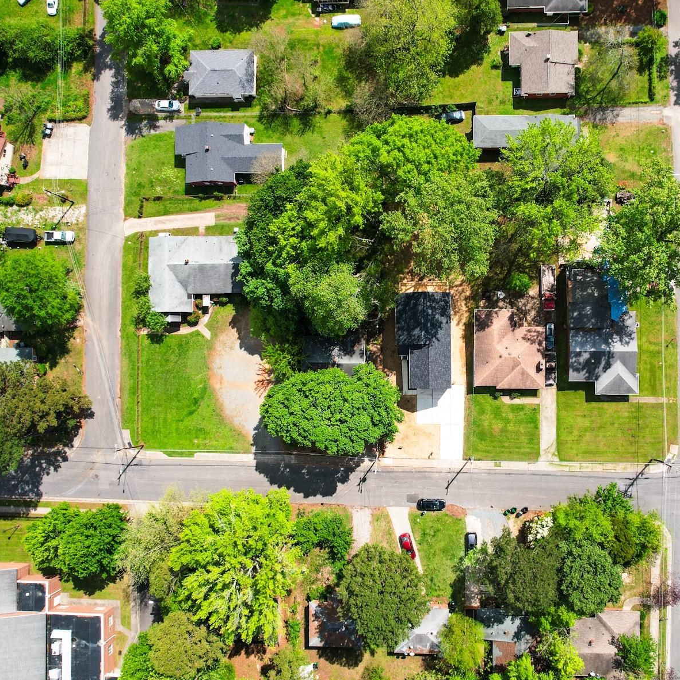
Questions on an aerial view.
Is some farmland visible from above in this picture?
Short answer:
No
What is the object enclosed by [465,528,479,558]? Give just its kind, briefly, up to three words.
vehicle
